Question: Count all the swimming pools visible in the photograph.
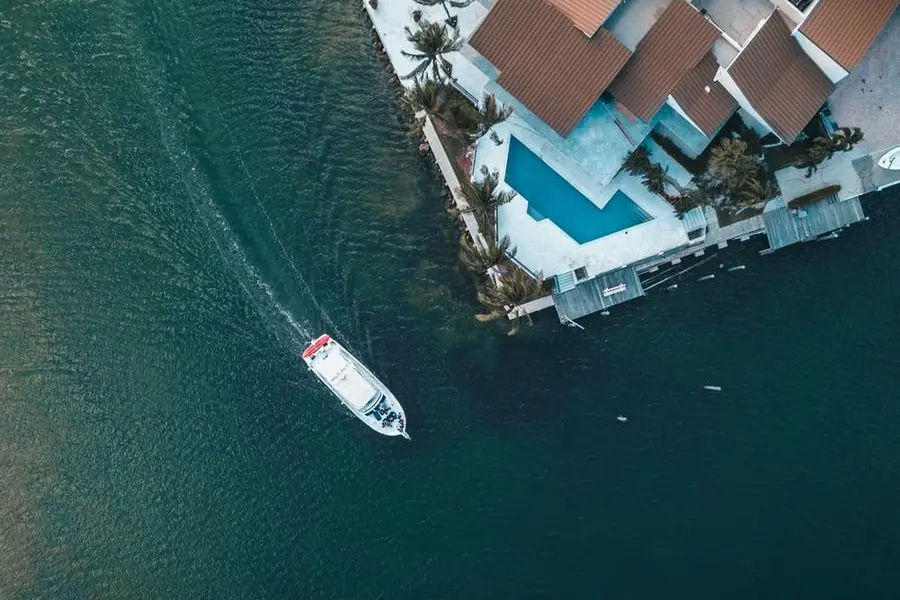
1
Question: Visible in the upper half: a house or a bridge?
house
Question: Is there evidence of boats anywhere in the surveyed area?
Yes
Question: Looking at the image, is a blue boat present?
No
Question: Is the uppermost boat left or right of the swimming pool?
on the right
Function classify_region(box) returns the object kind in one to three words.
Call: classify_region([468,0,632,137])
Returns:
house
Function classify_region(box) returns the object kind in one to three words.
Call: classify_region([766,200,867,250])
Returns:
pier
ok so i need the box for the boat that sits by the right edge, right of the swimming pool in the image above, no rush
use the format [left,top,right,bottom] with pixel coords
[877,148,900,171]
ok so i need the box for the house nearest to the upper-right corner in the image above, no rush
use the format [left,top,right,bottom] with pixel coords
[758,0,900,85]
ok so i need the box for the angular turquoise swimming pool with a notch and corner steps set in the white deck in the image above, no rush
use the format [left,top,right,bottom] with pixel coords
[504,135,654,244]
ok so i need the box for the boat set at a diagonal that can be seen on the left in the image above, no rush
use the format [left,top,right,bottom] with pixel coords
[303,332,412,441]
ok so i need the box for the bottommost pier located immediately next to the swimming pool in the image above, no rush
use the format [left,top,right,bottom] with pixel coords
[553,269,646,320]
